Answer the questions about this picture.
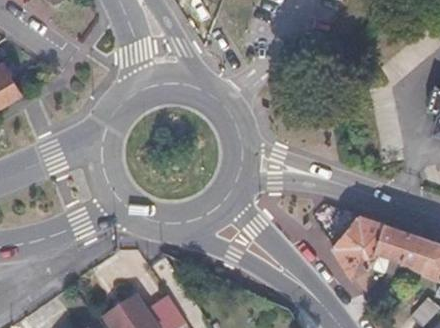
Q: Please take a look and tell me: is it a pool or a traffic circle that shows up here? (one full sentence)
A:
This aerial view contains a traffic circle.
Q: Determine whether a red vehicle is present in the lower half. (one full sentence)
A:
Yes, I can see a red vehicle in the lower half.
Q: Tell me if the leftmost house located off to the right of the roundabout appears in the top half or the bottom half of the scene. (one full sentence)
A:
The leftmost house located off to the right of the roundabout sits in the bottom half of the picture.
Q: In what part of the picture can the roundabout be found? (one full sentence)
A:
You can find the roundabout in the center area of the picture.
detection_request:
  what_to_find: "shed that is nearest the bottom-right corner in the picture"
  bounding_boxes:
[412,298,440,328]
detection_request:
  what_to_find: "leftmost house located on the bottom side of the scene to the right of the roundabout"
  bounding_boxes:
[334,216,384,288]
